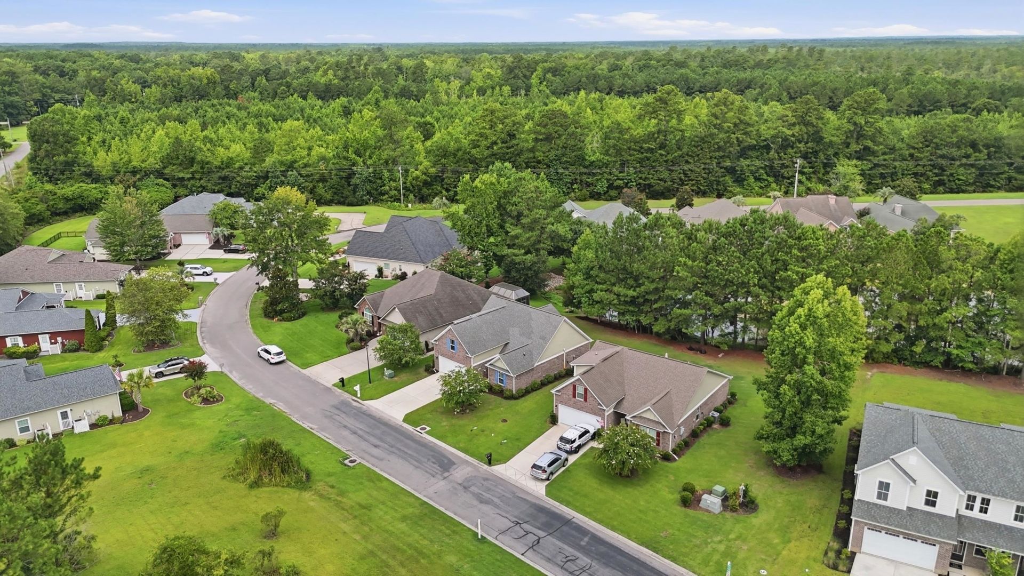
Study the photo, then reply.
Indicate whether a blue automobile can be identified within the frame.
No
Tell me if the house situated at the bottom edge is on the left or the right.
right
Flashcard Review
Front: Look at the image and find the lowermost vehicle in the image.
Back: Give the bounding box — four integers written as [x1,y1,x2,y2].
[525,447,571,480]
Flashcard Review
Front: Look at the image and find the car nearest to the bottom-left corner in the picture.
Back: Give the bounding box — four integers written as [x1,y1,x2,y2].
[145,351,189,377]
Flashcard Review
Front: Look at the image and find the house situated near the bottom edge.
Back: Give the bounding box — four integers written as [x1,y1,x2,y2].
[847,403,1024,576]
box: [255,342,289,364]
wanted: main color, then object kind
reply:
white car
